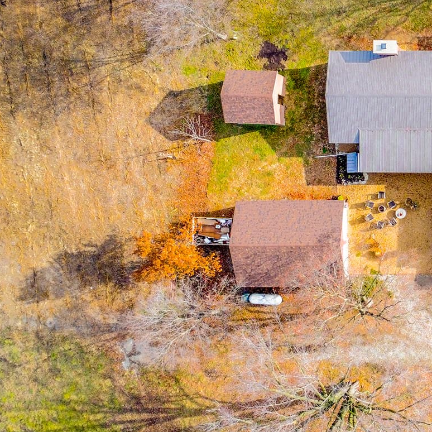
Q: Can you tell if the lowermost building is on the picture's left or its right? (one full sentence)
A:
It is on the right.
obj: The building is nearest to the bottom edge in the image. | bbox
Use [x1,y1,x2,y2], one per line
[228,200,347,287]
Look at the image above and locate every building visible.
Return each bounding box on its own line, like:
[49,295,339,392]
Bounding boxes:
[325,41,432,174]
[221,72,283,124]
[228,200,347,287]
